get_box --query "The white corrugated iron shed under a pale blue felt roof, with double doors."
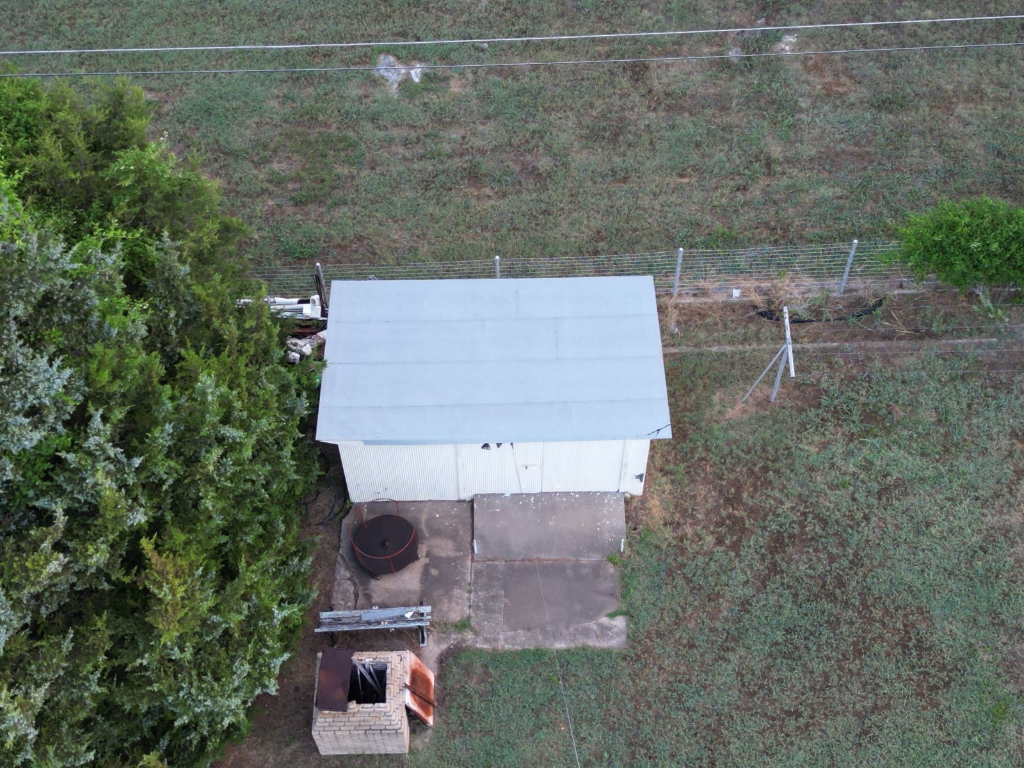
[316,276,671,501]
